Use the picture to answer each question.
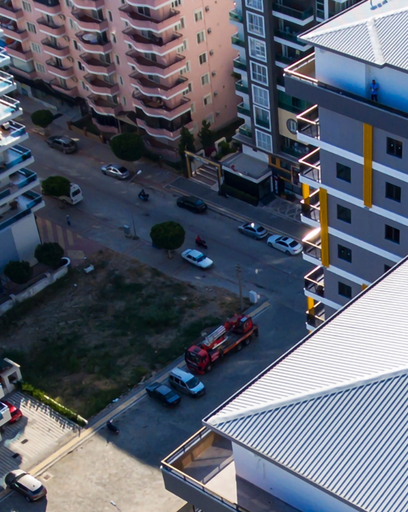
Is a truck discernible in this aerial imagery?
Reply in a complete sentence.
Yes, there is a truck in the image.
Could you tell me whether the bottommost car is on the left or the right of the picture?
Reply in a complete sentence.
You can find the bottommost car on the left side of the picture.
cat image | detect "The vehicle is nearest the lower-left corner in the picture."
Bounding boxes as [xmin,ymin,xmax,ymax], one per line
[0,471,51,502]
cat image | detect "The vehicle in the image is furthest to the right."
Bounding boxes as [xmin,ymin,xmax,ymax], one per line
[266,234,302,255]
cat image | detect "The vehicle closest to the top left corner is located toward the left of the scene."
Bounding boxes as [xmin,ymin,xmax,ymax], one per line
[44,135,80,154]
